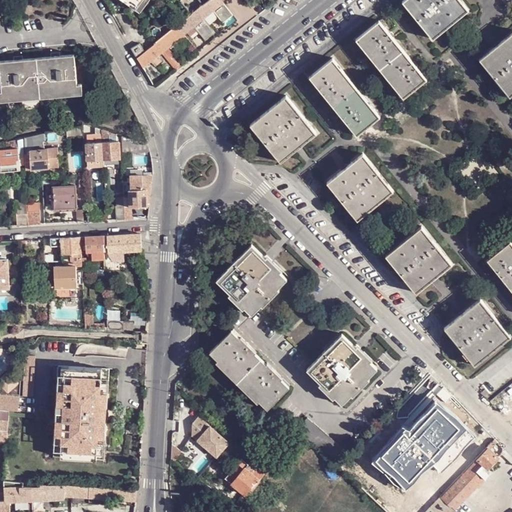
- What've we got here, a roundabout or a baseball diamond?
roundabout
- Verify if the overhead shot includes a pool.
Yes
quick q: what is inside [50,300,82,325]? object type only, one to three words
swimming pool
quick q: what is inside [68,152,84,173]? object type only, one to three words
swimming pool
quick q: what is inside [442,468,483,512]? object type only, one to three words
building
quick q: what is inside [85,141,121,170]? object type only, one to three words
house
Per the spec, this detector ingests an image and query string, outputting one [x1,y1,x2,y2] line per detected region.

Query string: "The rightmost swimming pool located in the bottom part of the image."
[188,440,211,474]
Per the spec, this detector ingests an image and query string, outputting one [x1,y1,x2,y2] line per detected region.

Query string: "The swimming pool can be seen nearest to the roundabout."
[132,154,149,168]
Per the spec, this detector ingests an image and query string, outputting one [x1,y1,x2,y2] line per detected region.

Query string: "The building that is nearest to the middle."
[216,243,288,318]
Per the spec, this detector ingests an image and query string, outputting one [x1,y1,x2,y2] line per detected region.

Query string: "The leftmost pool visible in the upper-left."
[46,130,62,147]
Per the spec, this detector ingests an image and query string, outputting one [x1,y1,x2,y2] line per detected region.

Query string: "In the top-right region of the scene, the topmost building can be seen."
[402,0,468,41]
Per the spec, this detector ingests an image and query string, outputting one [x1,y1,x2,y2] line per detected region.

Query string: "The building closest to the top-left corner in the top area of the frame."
[0,52,84,108]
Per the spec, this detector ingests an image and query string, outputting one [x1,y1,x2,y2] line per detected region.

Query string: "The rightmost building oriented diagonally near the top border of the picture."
[356,18,427,100]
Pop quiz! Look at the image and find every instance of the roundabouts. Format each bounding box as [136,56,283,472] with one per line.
[168,138,234,204]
